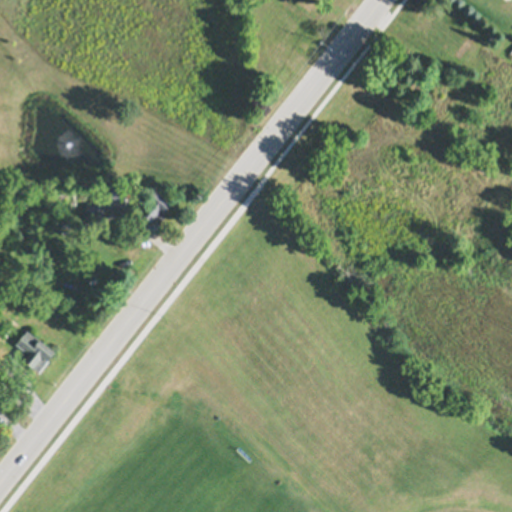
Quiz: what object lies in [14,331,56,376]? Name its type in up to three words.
house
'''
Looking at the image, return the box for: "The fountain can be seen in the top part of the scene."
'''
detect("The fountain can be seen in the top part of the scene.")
[58,135,80,157]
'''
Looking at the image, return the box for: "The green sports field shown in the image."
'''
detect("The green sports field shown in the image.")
[64,411,308,512]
